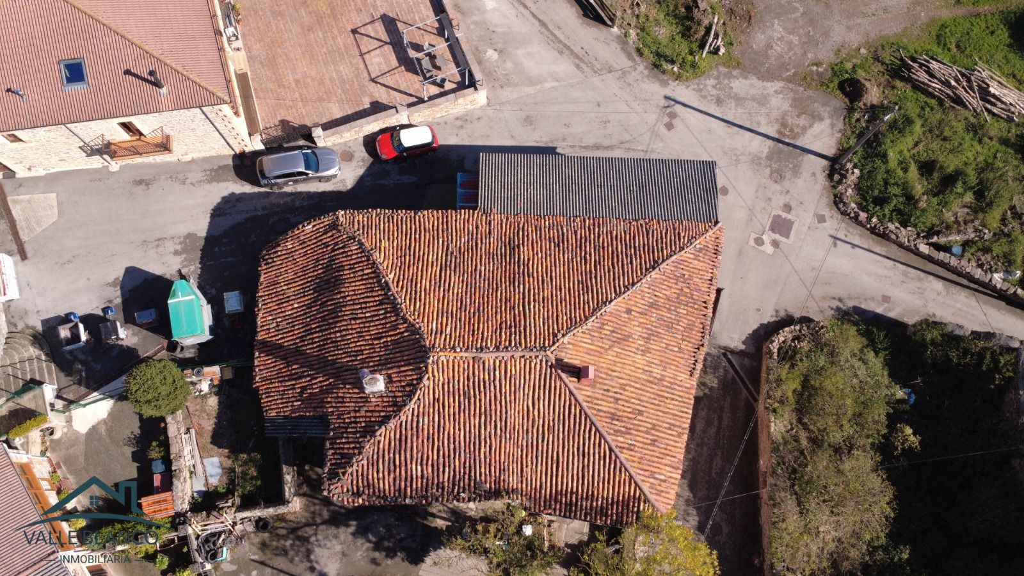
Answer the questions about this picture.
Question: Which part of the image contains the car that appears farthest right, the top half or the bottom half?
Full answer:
The car that appears farthest right is in the top half of the image.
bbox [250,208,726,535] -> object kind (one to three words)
house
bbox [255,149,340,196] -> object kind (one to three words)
car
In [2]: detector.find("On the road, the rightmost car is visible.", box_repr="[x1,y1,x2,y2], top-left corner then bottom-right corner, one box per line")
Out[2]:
[376,124,441,166]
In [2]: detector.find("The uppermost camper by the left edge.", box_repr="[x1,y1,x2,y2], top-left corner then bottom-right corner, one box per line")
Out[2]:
[0,253,29,307]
